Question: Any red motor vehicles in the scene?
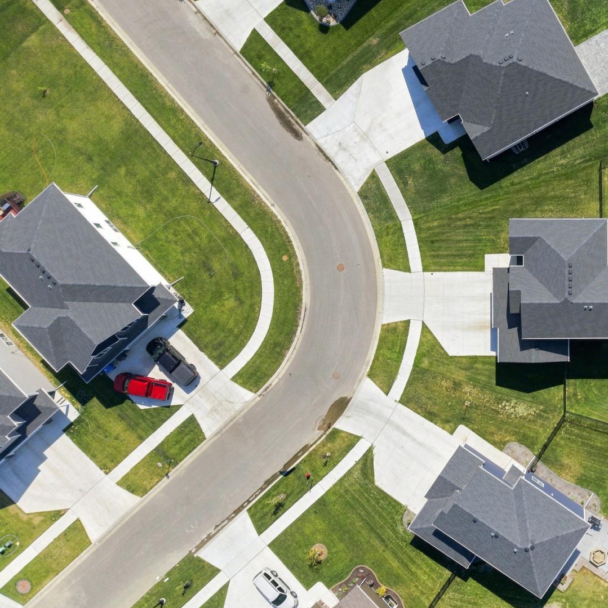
Yes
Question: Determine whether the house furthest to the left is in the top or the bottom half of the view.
bottom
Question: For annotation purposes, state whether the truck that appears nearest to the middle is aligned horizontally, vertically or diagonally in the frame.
diagonally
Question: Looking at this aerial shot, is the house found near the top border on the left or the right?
right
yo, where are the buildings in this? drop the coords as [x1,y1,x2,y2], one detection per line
[398,0,600,166]
[492,218,608,363]
[334,582,389,608]
[0,331,68,465]
[406,444,593,600]
[0,182,184,385]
